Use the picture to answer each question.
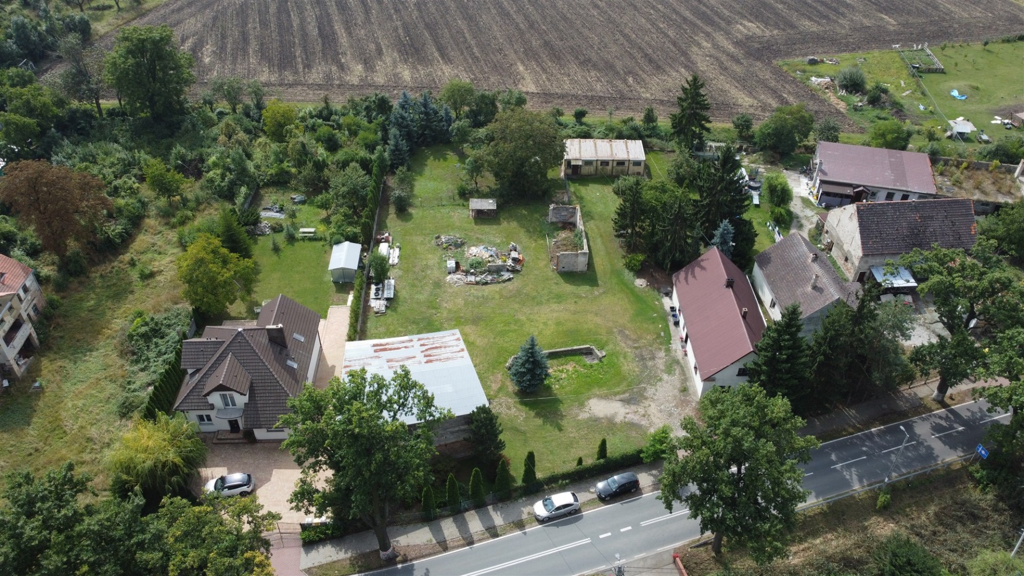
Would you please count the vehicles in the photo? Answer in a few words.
three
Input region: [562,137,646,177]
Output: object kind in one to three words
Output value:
shed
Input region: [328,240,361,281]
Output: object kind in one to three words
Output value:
shed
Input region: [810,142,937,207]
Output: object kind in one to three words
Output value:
house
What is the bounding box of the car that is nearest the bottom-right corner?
[593,468,640,500]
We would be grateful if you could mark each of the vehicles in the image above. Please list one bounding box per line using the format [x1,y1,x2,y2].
[593,468,640,500]
[532,488,581,520]
[204,470,256,497]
